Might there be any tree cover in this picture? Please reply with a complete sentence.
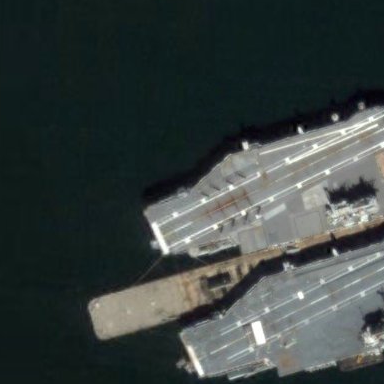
No, tree cover can't be seen anywhere here.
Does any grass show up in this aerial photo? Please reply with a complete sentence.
No, the scene doesn't show any grass.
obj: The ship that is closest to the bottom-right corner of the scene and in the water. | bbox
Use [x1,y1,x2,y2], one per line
[339,352,383,373]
